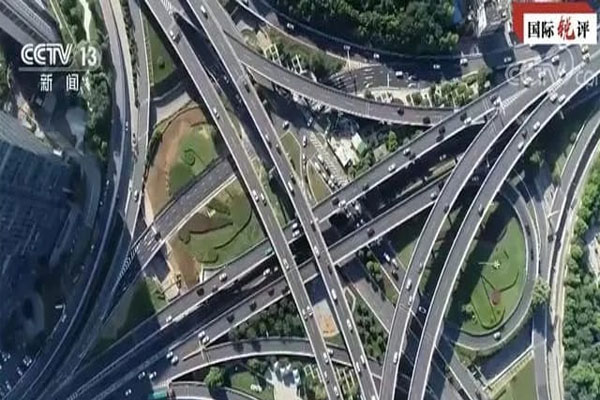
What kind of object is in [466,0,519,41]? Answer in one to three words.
building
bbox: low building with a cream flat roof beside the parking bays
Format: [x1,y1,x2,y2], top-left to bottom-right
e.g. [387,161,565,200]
[328,131,355,167]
